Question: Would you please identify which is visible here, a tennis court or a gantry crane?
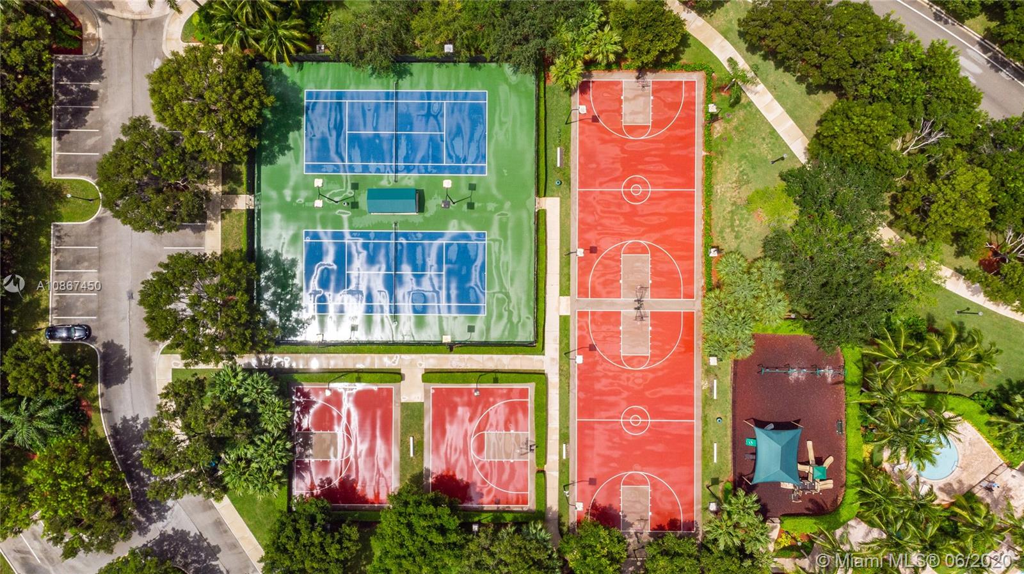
tennis court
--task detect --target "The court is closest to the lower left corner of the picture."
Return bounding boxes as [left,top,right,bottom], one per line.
[293,383,401,507]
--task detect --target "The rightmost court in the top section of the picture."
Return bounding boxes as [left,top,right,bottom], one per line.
[568,72,702,305]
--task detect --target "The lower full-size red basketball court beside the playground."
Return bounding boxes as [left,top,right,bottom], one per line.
[567,304,702,539]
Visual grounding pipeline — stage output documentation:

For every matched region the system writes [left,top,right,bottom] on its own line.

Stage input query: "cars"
[46,324,88,342]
